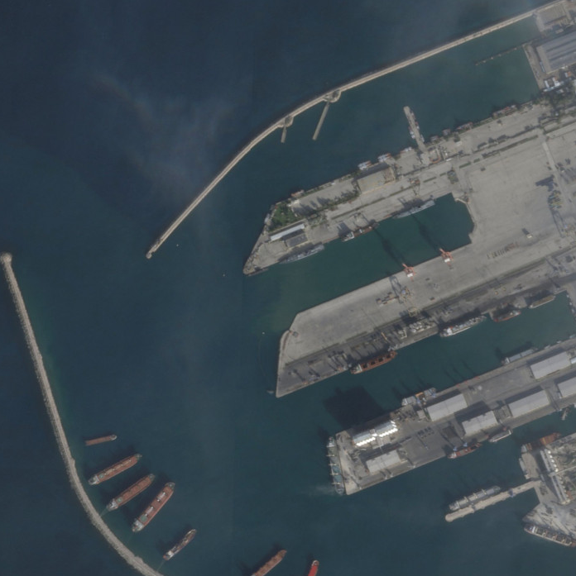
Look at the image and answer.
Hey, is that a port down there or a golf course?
port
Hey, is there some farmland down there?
No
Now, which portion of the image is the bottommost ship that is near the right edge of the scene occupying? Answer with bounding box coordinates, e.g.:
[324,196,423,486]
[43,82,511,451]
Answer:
[522,524,576,548]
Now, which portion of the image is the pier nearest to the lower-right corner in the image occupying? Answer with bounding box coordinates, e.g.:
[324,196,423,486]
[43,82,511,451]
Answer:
[445,484,535,521]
